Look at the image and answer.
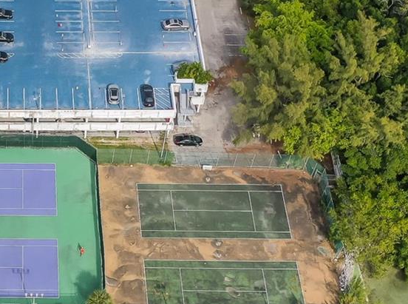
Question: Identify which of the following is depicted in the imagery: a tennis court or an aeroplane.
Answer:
tennis court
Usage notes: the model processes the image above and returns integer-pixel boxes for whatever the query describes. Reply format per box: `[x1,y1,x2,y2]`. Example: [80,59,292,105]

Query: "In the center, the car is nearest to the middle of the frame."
[175,134,201,147]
